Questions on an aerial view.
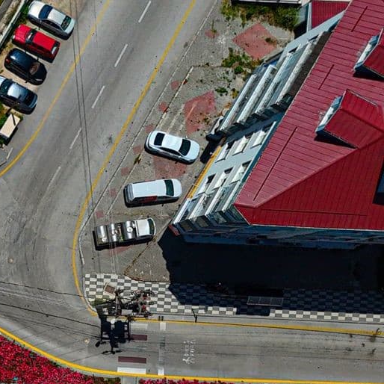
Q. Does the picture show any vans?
Yes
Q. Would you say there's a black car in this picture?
Yes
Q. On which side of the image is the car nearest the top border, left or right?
left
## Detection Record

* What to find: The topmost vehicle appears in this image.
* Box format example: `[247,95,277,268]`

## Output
[25,1,78,42]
